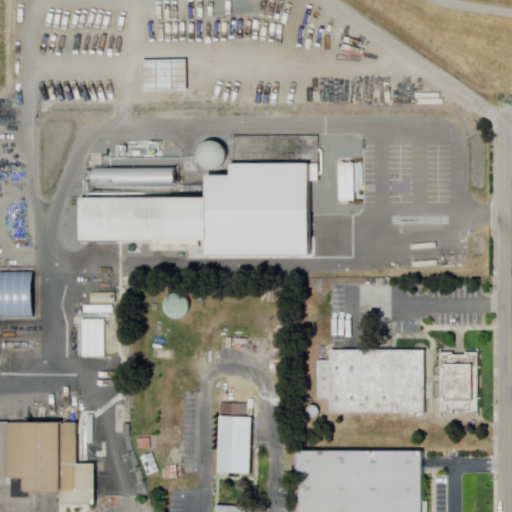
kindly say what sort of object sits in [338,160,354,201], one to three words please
building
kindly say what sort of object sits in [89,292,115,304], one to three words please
shed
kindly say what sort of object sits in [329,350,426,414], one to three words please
building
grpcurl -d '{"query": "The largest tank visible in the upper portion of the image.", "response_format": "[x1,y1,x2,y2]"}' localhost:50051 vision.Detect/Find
[190,135,229,173]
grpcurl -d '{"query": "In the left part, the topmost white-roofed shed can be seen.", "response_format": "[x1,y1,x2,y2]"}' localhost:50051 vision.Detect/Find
[144,60,186,91]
